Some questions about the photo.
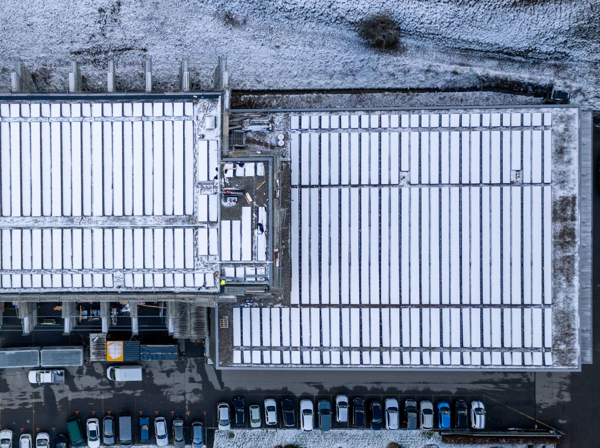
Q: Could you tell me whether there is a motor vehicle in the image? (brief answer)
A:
Yes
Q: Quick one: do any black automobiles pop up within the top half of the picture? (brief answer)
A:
No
